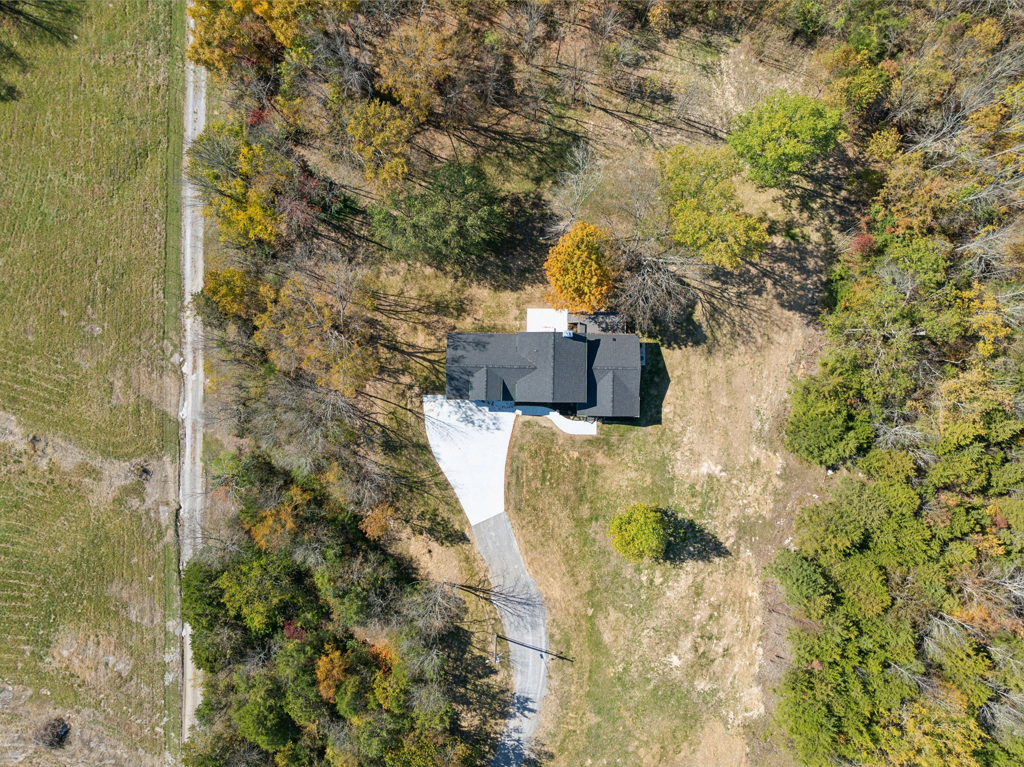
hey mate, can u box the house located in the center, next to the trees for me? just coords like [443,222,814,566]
[445,311,641,422]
